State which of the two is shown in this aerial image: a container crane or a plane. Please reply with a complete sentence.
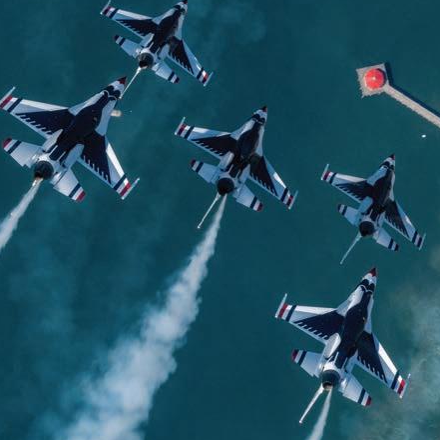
I can see a plane in this picture.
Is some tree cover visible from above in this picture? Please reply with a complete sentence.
No, there's no tree cover in this view.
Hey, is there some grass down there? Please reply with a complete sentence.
No, no grass is visible.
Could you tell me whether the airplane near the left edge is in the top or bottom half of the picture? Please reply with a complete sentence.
The airplane near the left edge is in the top half of the image.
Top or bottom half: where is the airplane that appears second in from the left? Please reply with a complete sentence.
Seen from above, the airplane that appears second in from the left lies in the top half of the view.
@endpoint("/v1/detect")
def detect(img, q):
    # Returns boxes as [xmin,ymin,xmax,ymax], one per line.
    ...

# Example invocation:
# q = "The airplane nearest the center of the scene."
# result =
[175,104,297,228]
